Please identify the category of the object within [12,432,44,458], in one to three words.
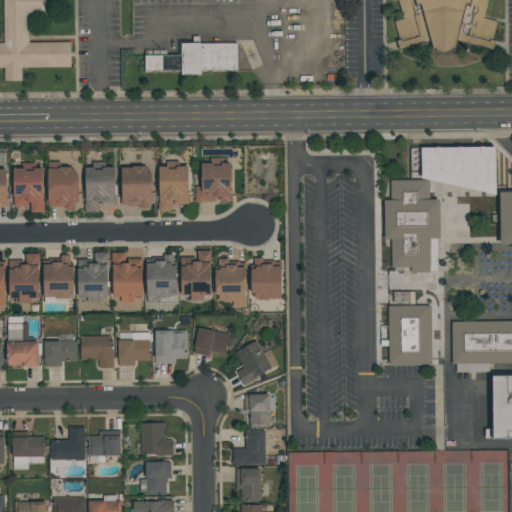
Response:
house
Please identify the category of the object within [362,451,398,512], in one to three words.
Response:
tennis court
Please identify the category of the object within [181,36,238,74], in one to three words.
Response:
building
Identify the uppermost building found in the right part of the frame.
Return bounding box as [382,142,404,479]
[396,0,500,52]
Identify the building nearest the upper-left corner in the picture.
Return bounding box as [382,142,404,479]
[0,0,71,80]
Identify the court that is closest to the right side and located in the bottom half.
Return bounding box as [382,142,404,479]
[472,450,508,512]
